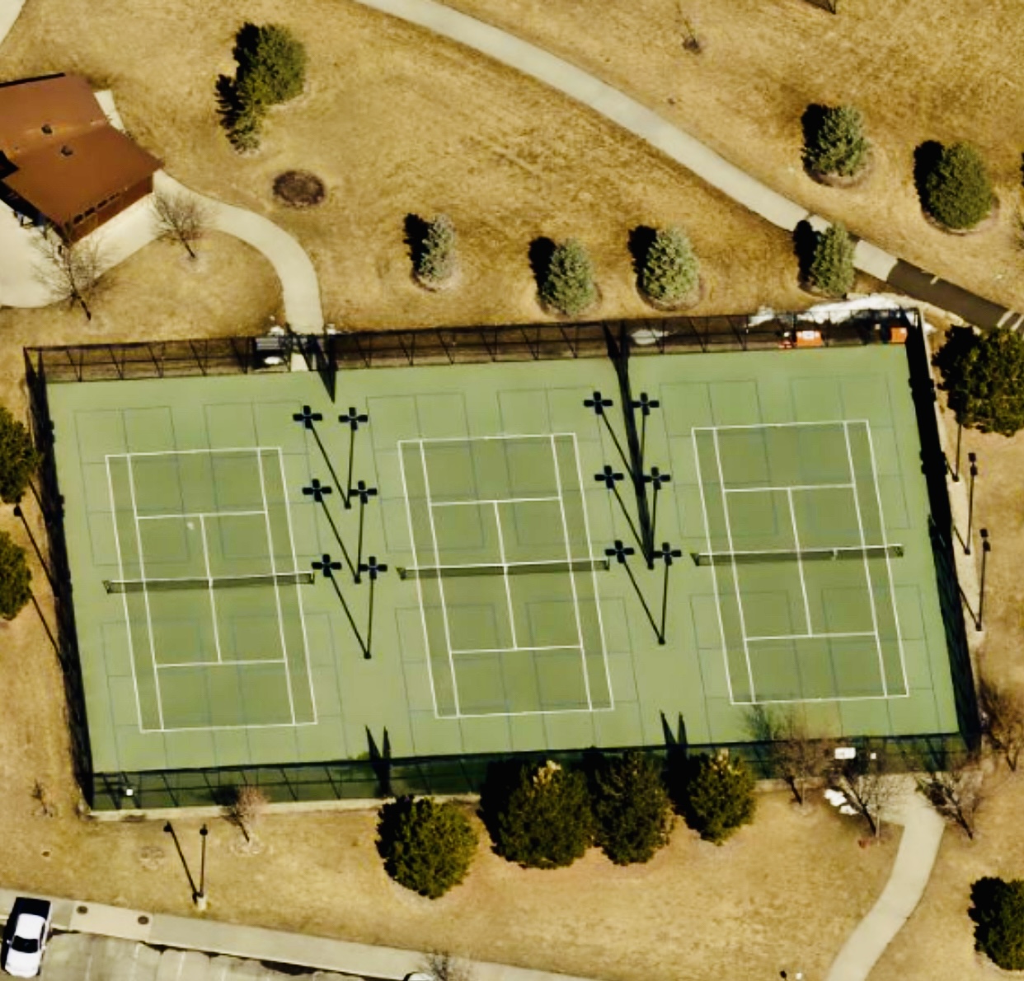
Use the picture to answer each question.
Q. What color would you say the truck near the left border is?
white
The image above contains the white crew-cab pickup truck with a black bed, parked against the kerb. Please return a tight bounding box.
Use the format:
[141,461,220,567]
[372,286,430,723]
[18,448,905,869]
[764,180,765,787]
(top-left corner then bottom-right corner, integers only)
[7,897,51,980]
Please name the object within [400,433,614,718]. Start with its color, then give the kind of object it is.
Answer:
green tennis court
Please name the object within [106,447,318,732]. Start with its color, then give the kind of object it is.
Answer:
green tennis court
